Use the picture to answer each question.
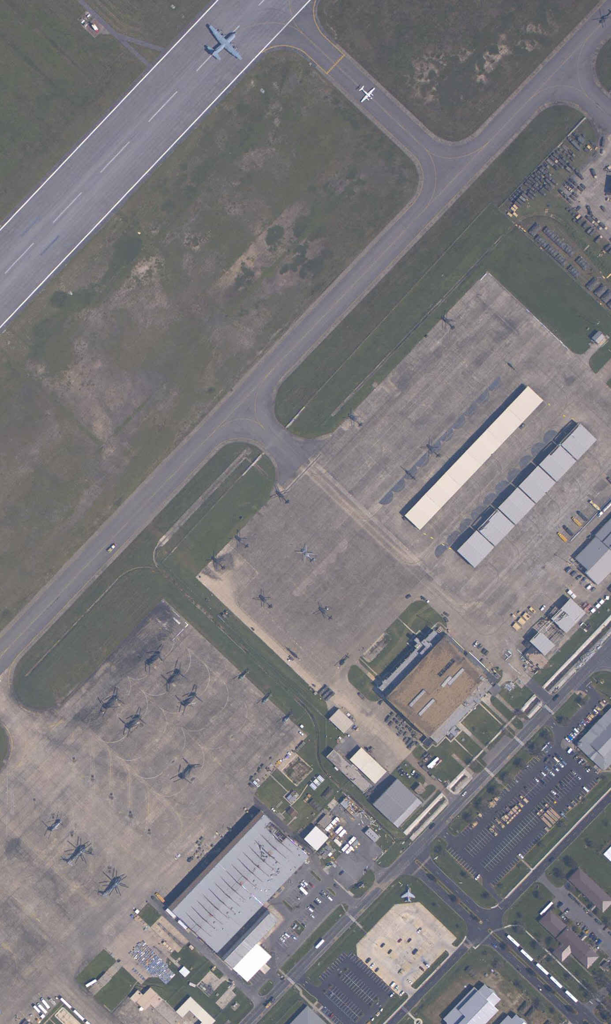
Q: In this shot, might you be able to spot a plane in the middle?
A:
No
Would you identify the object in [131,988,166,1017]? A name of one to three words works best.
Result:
building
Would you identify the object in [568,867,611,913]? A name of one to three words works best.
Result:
house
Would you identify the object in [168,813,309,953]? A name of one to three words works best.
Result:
hangar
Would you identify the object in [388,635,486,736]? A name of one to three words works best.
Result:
building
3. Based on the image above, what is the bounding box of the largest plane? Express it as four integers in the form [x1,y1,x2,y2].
[206,25,241,61]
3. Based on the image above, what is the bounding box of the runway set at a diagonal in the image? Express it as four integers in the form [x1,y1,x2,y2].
[0,0,310,328]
